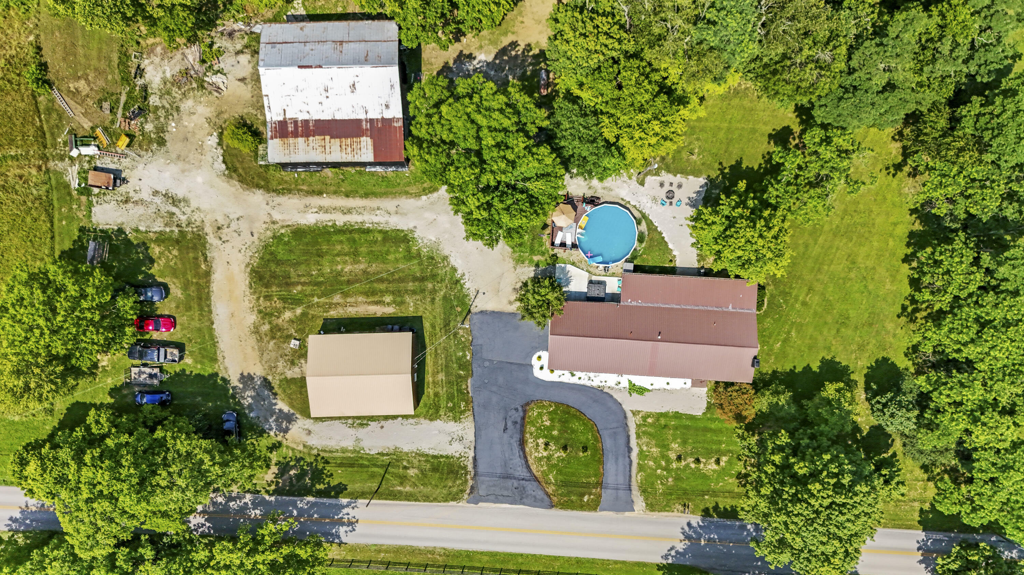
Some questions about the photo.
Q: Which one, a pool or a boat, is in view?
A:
pool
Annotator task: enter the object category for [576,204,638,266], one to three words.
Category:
swimming pool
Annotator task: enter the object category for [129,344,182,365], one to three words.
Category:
truck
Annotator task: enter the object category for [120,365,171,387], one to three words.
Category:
trailer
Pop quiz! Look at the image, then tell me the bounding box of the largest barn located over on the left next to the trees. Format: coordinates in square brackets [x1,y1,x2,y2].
[258,20,408,164]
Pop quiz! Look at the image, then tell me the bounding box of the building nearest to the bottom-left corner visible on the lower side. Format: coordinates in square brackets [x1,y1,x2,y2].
[306,332,417,418]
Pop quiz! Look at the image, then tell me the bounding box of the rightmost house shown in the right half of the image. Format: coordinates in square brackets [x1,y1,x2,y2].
[548,272,761,384]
